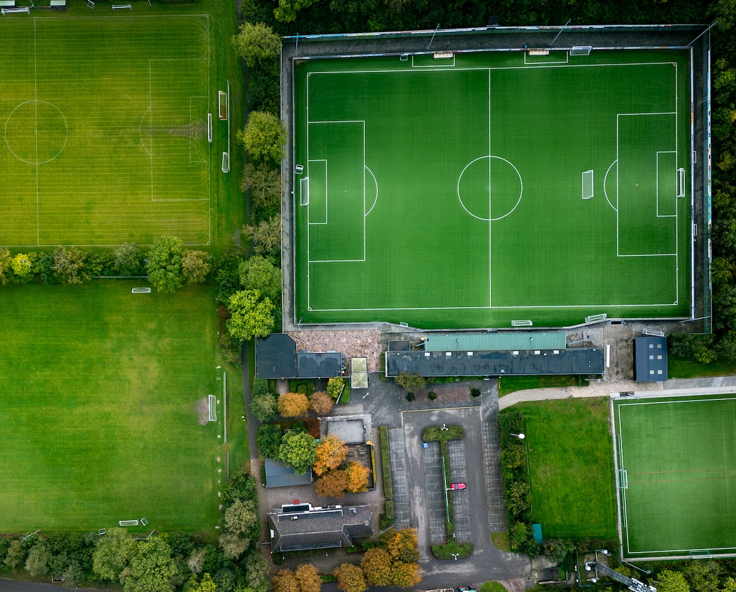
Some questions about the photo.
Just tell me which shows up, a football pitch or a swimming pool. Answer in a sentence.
Of the two, only a football pitch appears.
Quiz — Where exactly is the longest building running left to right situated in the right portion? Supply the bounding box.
[385,348,605,378]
